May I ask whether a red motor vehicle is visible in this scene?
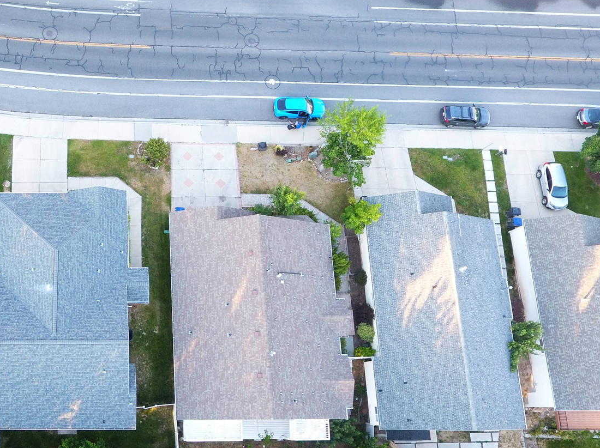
No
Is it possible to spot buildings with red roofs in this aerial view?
No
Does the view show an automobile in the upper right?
Yes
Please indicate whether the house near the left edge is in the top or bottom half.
bottom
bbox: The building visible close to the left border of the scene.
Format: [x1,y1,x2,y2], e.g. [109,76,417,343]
[0,185,149,434]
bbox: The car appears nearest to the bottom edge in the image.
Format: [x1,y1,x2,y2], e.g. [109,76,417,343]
[536,161,569,210]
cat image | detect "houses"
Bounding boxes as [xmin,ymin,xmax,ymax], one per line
[356,189,528,443]
[169,205,355,441]
[506,214,600,429]
[0,185,149,434]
